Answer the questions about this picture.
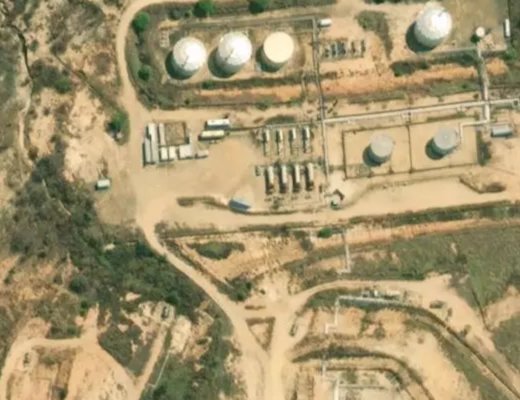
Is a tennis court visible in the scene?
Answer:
No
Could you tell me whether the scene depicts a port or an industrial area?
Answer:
industrial area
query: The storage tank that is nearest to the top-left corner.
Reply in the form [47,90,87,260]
[169,38,208,77]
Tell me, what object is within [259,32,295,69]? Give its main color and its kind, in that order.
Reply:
white storage tank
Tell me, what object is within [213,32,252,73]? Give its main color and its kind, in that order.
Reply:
white storage tank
